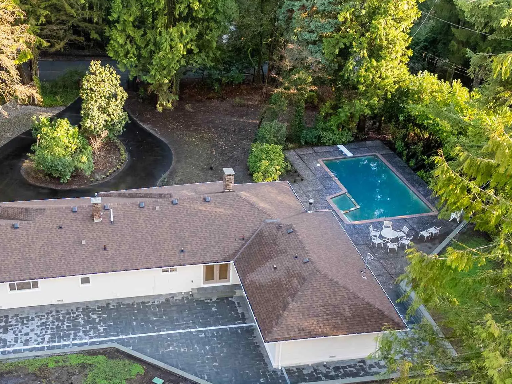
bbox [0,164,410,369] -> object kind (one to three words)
house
